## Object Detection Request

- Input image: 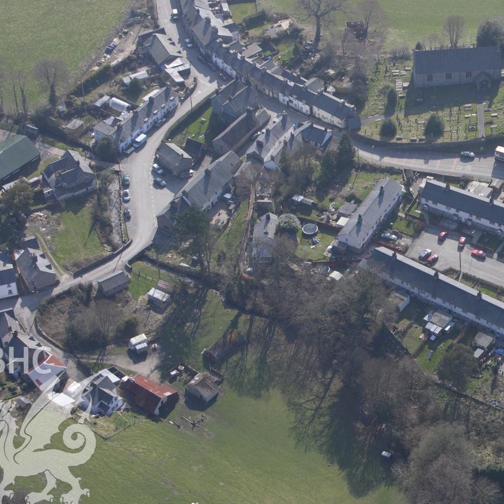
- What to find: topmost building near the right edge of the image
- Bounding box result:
[413,46,502,86]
